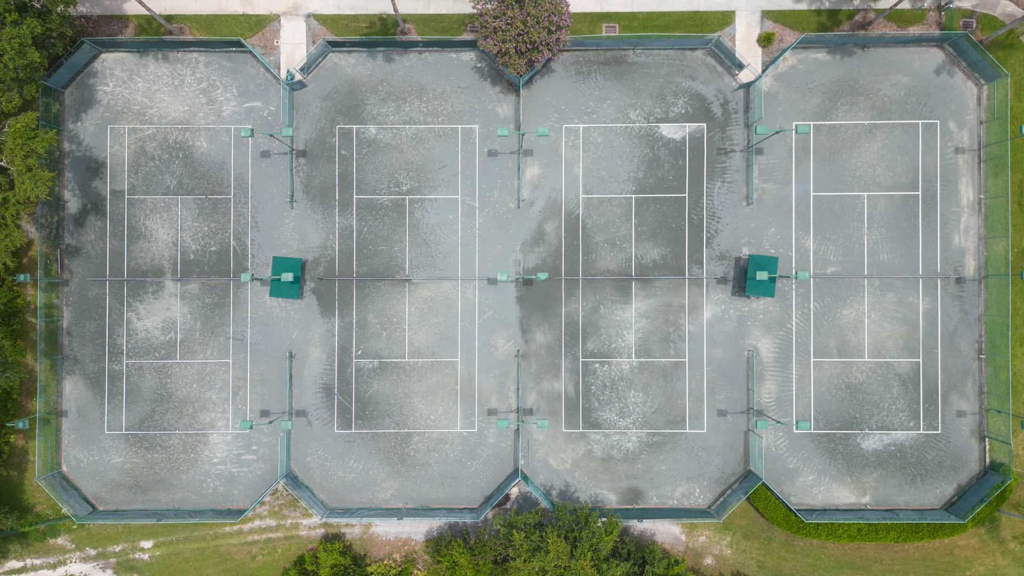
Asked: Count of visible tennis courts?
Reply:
4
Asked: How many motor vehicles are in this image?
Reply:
0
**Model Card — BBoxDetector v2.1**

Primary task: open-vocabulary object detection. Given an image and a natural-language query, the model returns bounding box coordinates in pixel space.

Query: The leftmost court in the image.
[62,51,294,510]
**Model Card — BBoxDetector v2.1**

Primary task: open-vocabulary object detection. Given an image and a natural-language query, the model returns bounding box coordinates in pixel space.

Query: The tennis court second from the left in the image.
[292,51,520,508]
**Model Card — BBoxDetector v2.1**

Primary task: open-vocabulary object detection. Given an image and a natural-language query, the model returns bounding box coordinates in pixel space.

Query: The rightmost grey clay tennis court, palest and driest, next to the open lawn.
[748,46,985,510]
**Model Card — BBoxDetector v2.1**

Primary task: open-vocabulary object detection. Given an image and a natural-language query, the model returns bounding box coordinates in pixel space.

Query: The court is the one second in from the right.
[519,49,749,511]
